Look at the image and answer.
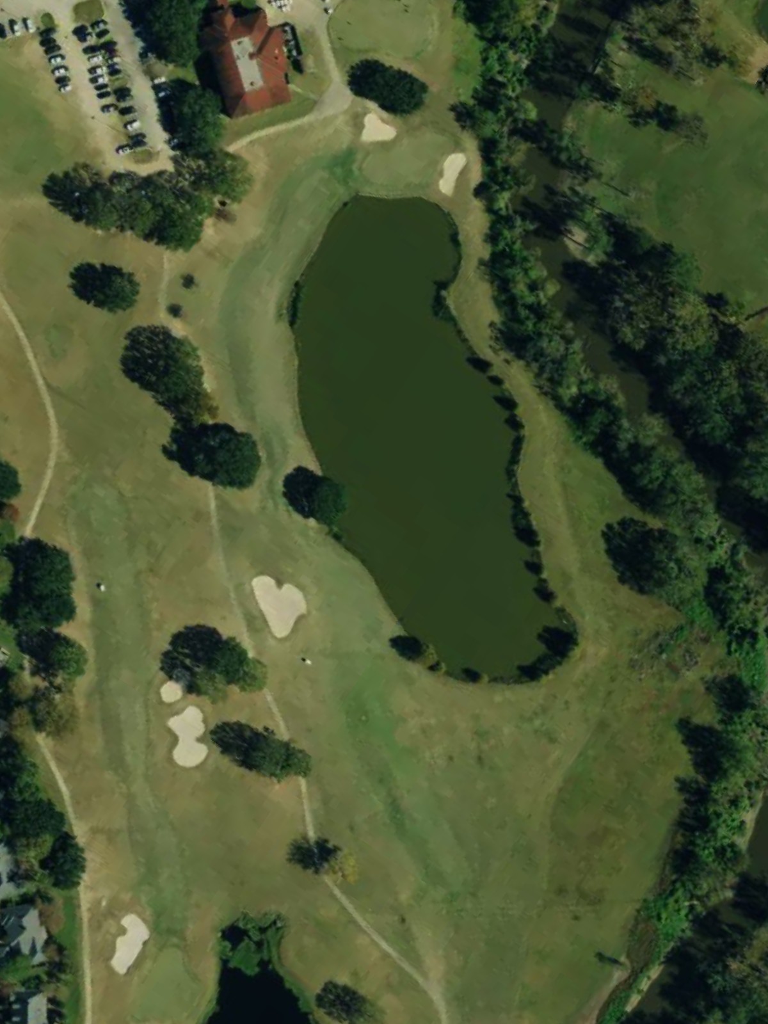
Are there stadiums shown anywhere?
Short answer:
No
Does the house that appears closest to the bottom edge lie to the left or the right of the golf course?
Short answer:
on the left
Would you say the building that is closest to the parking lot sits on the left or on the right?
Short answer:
left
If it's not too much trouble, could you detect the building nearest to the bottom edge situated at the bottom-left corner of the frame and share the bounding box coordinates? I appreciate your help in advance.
[7,993,46,1024]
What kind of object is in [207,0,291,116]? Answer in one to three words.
building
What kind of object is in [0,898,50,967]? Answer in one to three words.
house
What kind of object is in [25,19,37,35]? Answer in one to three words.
vehicle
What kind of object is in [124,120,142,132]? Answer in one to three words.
vehicle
